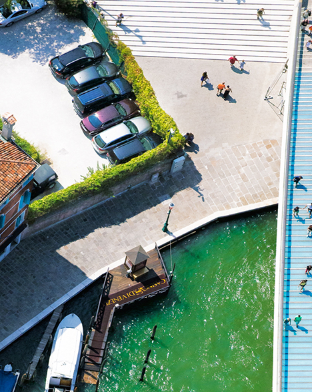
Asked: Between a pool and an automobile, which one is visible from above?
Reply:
automobile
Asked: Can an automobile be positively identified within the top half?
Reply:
Yes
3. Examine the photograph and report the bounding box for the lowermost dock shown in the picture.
[82,242,172,389]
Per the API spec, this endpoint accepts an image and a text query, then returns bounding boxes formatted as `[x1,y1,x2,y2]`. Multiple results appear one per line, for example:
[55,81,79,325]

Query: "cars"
[0,0,45,28]
[30,163,67,196]
[67,60,120,92]
[106,133,159,164]
[81,98,138,133]
[74,77,130,112]
[93,118,147,151]
[47,44,105,80]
